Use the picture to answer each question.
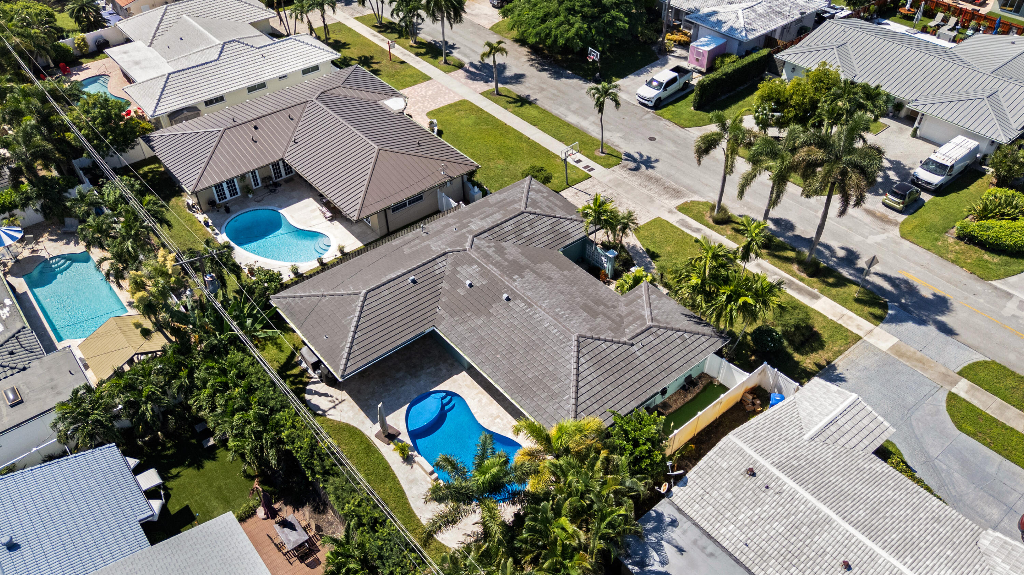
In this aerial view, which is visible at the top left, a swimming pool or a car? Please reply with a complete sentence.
It is a swimming pool that can be seen at the top left.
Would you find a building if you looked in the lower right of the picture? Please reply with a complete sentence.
Yes, in the lower right of the picture there is a building.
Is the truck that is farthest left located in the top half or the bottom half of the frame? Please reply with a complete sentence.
Seen from above, the truck that is farthest left lies in the top half of the view.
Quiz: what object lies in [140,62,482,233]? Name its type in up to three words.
house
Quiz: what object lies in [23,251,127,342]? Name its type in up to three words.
swimming pool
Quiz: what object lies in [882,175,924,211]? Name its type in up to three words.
car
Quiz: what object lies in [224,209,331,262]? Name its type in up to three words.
swimming pool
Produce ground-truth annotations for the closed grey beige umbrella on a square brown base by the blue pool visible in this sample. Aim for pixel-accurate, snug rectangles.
[371,402,399,450]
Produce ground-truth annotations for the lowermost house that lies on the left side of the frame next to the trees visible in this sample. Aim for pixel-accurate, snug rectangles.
[0,443,274,575]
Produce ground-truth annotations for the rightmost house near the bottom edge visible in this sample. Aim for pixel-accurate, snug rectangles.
[611,375,1024,575]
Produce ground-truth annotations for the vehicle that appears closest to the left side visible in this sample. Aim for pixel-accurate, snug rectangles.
[634,64,696,106]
